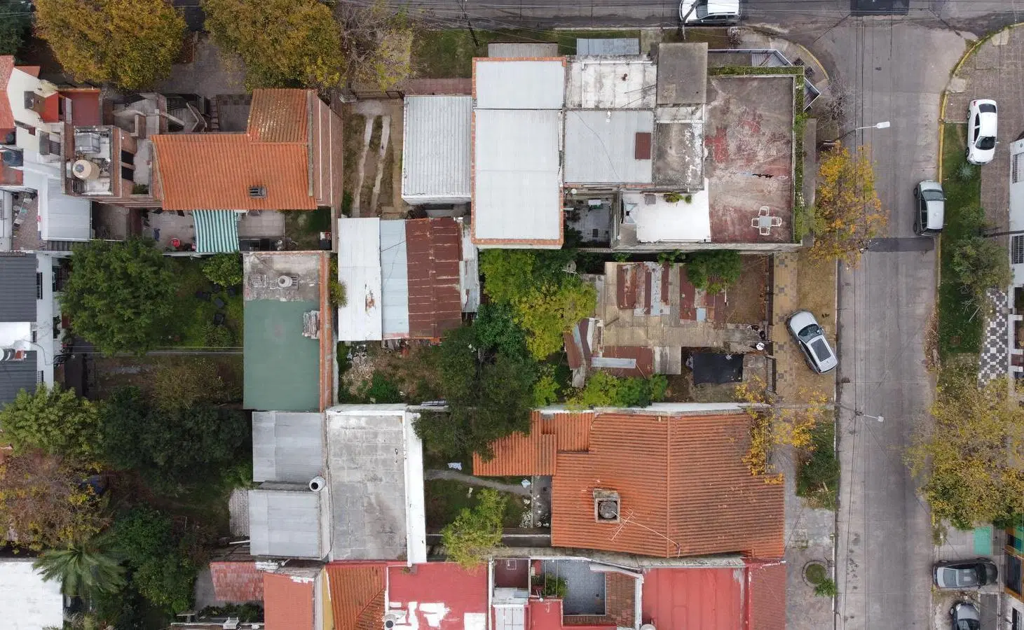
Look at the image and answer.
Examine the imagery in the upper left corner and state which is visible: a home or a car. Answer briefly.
home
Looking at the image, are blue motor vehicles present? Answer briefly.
No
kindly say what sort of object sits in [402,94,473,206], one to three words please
building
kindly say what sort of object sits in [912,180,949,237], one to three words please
car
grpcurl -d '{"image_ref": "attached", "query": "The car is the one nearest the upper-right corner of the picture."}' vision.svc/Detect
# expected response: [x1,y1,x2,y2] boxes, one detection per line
[963,99,1001,164]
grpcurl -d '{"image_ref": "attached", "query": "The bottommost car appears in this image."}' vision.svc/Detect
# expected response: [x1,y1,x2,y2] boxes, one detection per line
[945,594,983,630]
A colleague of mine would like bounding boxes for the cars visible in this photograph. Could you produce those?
[912,180,949,237]
[678,0,742,26]
[963,99,1001,164]
[786,310,840,375]
[945,594,983,630]
[931,556,997,590]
